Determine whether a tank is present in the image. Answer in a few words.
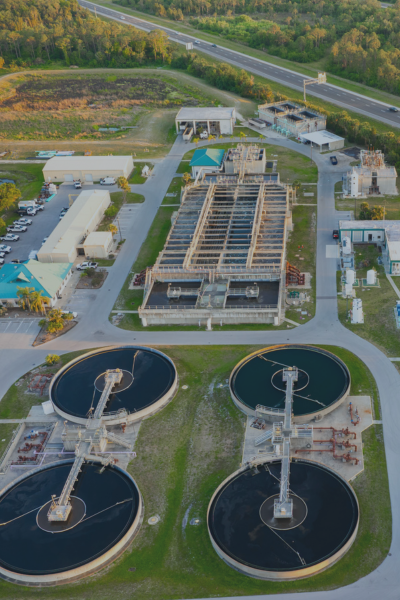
Yes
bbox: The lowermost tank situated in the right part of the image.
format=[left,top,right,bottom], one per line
[205,462,361,585]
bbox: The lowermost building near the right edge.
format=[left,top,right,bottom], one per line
[337,220,400,275]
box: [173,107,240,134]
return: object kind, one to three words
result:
building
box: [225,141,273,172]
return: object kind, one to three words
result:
building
